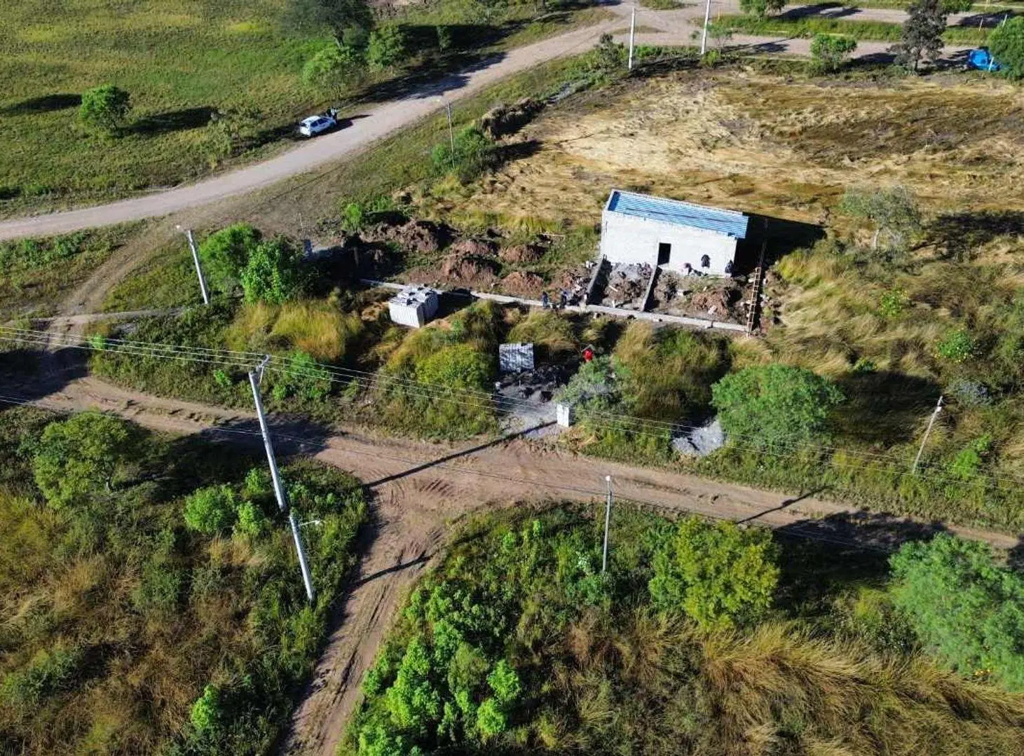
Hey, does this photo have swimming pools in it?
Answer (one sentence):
No, this view has no swimming pool in it.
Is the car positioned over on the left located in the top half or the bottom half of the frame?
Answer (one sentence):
It is in the top half that the car positioned over on the left appears.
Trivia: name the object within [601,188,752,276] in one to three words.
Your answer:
building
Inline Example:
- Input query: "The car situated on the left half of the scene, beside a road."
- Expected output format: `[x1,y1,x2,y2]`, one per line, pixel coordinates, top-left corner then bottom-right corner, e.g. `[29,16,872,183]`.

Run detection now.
[300,115,336,136]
